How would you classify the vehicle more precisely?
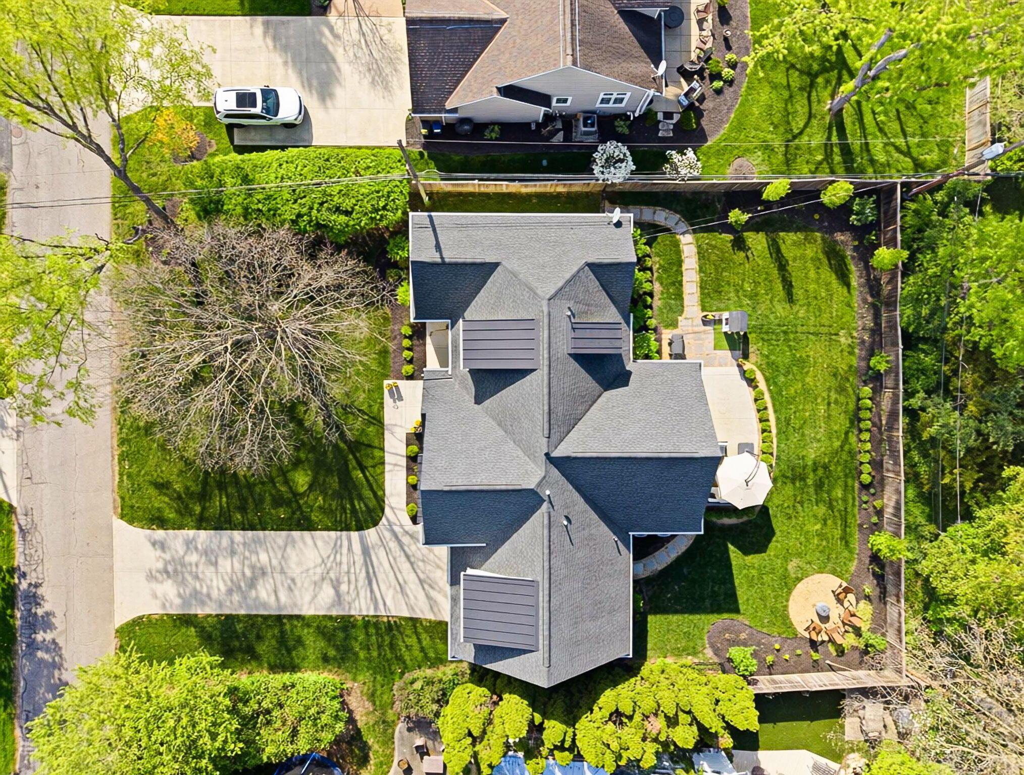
automobile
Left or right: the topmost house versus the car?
on the right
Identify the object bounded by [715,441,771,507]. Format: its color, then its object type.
white umbrella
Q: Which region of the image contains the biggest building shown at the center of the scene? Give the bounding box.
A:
[408,210,721,693]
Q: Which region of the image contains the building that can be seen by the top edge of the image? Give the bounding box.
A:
[407,0,682,135]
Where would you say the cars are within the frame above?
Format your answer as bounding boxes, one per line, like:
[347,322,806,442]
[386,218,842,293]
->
[213,82,307,130]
